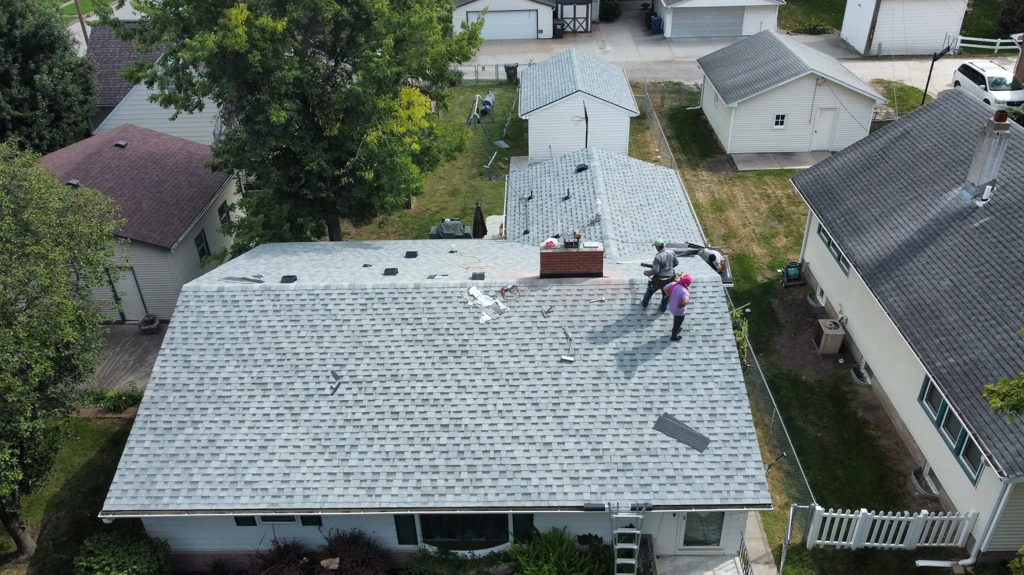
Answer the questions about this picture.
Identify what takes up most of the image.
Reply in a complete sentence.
The scene is dominated by buildings.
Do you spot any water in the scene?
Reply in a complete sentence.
No, the picture contains no water.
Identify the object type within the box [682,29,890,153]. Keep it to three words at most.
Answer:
building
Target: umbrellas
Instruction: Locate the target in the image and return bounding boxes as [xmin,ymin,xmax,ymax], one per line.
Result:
[469,187,487,236]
